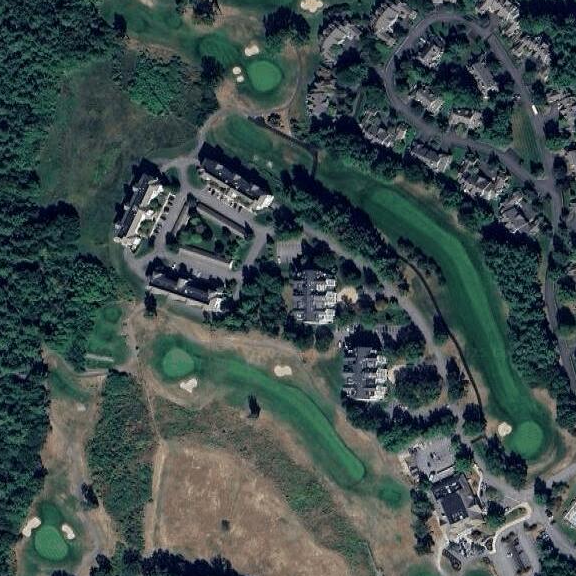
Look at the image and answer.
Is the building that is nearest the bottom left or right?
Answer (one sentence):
The building that is nearest the bottom is on the right side of the image.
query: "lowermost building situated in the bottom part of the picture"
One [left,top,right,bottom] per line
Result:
[430,467,486,530]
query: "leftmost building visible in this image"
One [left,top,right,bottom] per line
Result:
[116,177,164,254]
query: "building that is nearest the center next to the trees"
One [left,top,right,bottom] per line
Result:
[293,271,337,325]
